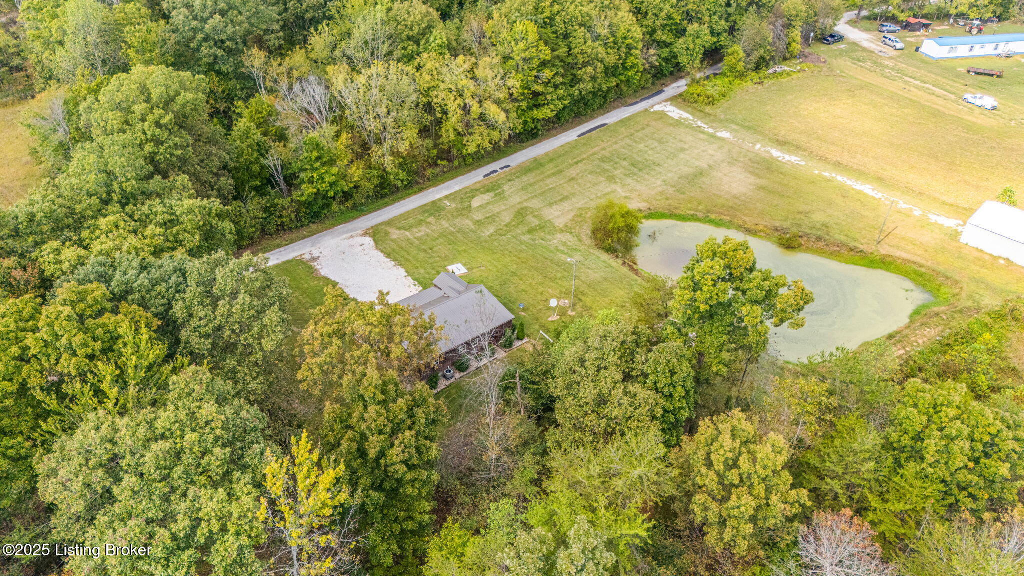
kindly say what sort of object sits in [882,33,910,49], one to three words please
car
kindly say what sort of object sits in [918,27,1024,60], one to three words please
house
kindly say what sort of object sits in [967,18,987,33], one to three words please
work vehicle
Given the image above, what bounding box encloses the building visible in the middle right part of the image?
[961,201,1024,267]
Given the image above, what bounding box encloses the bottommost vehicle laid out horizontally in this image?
[962,91,1003,108]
